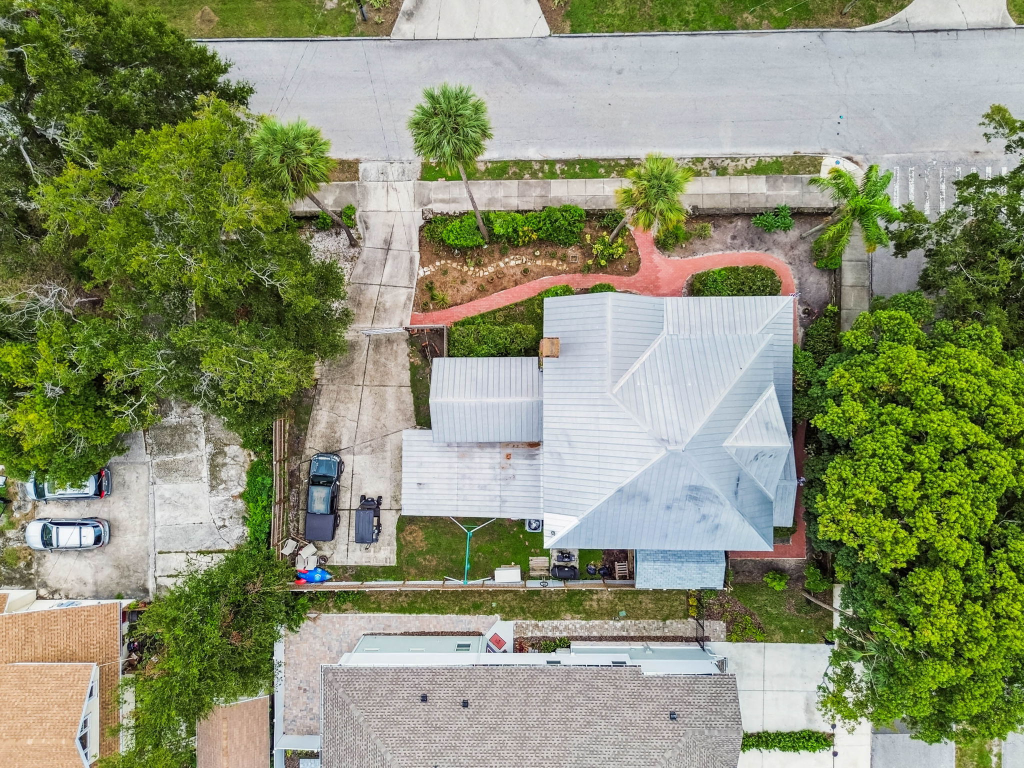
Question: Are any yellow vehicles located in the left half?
No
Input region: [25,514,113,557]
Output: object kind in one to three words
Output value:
car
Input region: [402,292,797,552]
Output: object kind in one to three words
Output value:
house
